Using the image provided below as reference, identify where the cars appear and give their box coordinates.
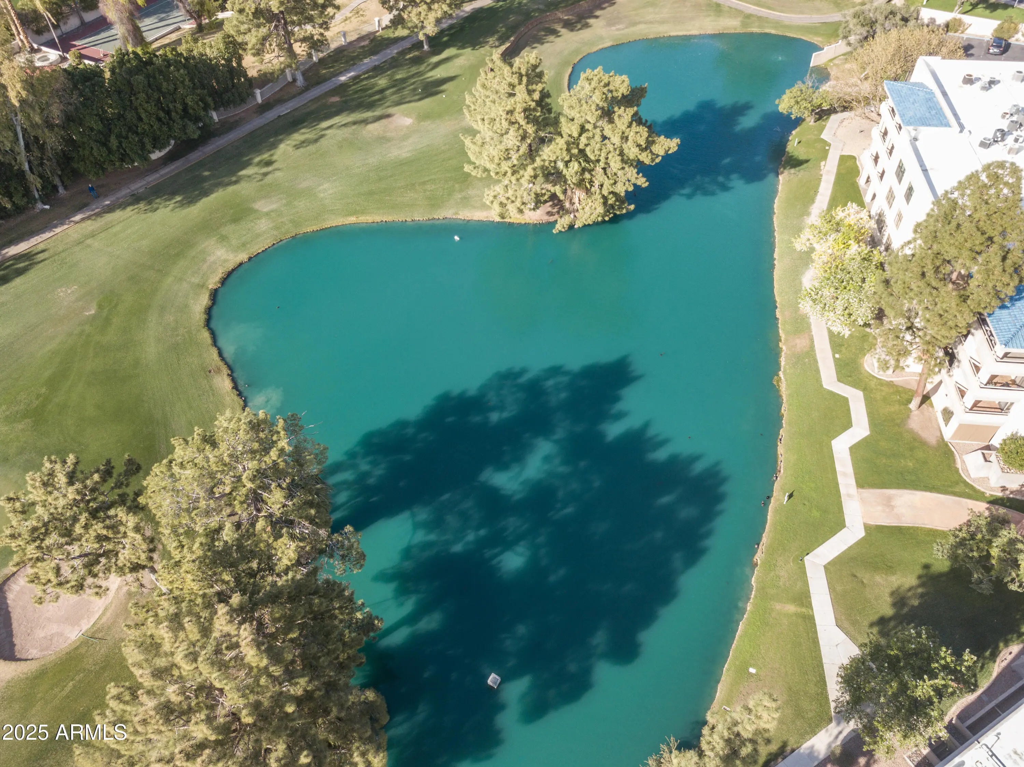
[989,35,1009,52]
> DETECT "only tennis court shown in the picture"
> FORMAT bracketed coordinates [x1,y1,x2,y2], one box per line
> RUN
[39,0,231,62]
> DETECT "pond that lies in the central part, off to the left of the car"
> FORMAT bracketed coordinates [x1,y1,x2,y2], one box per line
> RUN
[207,33,829,767]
